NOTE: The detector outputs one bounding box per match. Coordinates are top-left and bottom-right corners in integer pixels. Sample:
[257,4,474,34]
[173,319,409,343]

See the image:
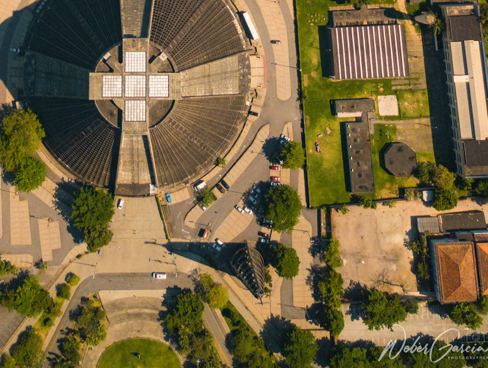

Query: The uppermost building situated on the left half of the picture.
[16,0,257,204]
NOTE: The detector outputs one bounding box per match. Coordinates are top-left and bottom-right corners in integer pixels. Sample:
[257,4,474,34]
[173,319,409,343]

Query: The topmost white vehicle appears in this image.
[242,12,258,38]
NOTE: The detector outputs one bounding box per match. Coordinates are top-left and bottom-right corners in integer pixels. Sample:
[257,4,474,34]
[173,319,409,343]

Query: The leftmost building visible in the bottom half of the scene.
[230,239,267,303]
